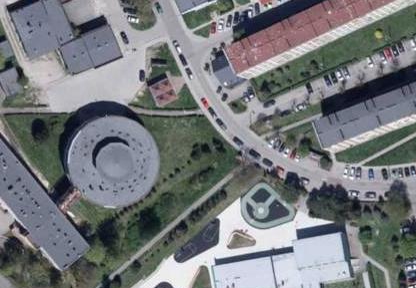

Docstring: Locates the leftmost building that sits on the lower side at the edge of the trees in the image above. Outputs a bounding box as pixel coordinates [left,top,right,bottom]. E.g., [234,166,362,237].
[0,126,99,272]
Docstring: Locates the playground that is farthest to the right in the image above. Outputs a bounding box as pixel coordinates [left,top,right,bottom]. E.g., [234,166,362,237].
[241,183,296,228]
